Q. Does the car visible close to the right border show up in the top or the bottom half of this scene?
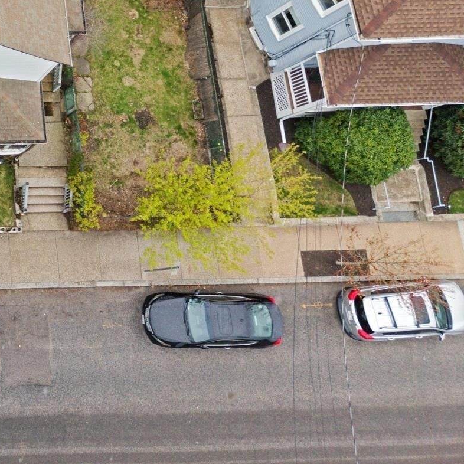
bottom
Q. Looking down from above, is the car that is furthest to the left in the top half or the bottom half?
bottom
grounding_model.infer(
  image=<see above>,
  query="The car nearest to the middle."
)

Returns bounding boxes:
[142,292,287,352]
